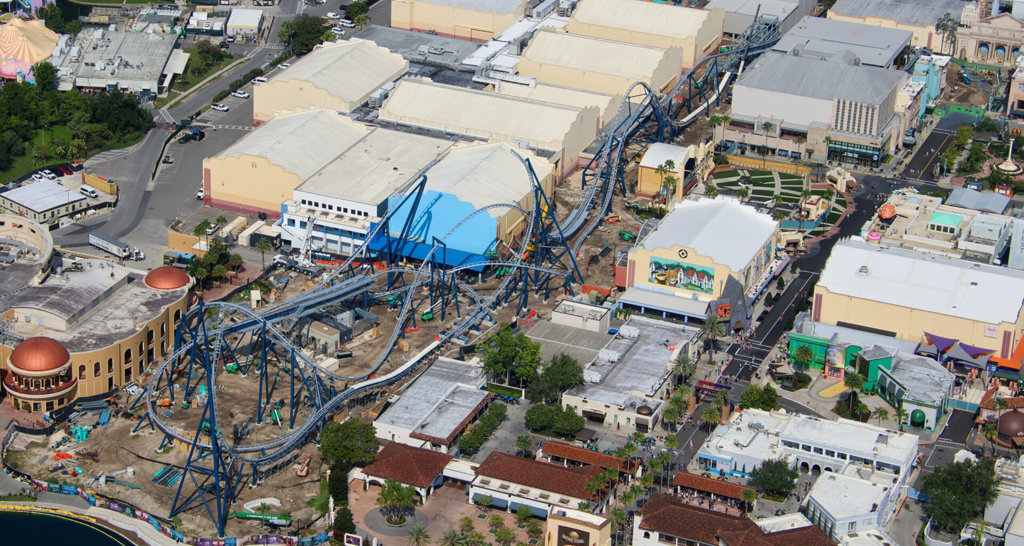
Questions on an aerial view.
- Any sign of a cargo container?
Yes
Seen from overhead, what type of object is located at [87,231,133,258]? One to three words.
trailer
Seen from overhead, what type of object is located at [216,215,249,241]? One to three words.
shipping container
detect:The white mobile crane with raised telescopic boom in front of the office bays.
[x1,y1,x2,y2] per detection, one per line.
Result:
[275,220,322,276]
